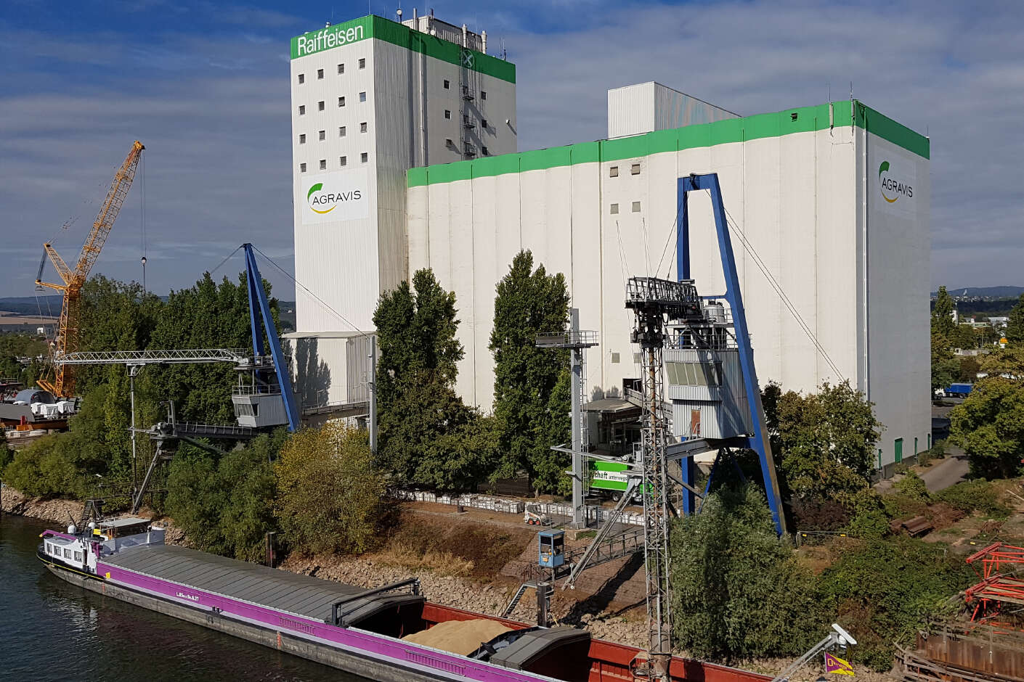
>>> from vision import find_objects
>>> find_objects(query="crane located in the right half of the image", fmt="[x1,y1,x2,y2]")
[612,173,834,682]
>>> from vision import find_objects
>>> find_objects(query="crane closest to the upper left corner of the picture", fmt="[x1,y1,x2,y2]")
[33,140,147,399]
